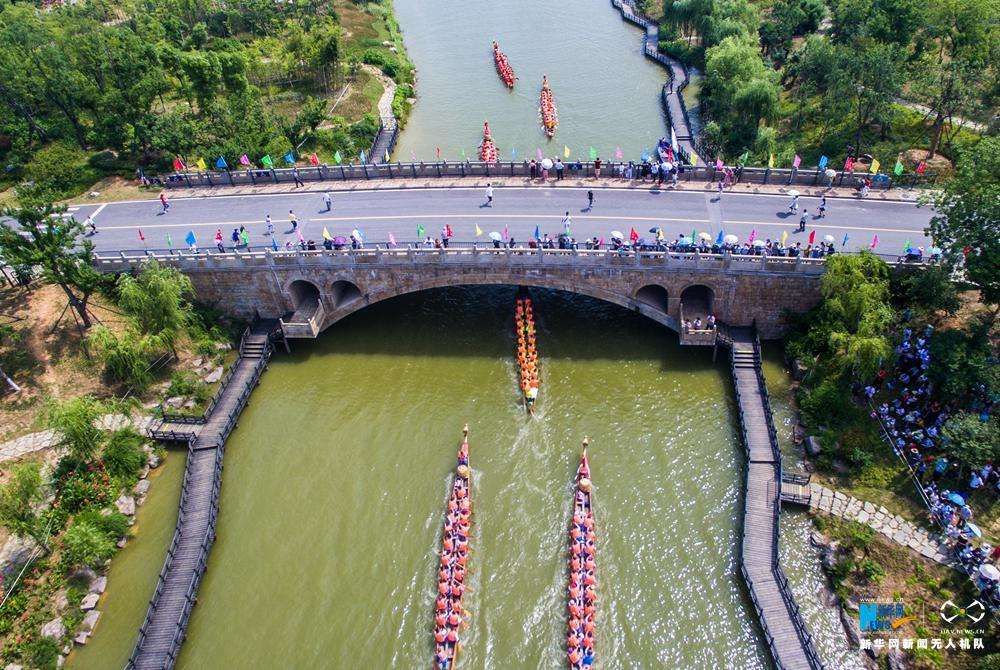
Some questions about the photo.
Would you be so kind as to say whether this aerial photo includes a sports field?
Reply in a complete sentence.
No, the scene contains no sports field.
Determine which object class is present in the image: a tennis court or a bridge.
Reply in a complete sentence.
Of the two, only a bridge appears.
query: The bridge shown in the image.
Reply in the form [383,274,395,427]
[40,164,997,338]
